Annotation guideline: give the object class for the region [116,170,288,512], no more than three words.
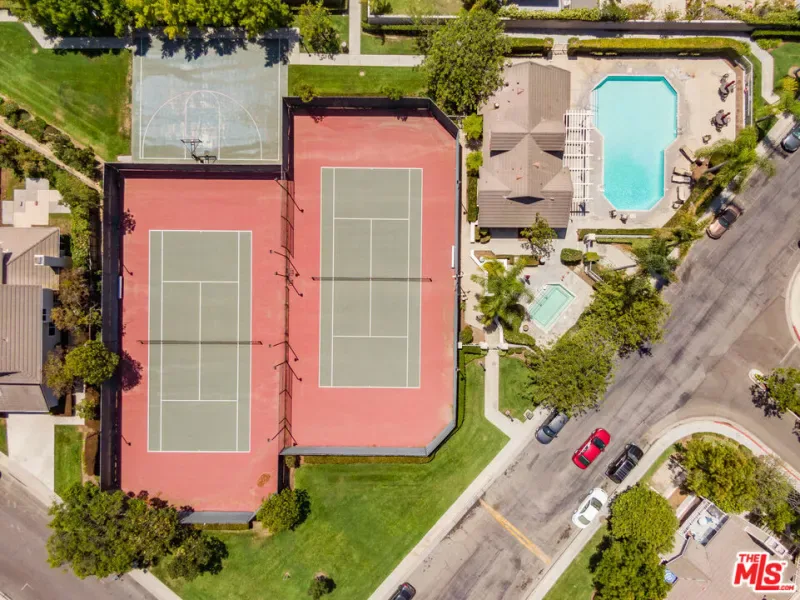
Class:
tennis court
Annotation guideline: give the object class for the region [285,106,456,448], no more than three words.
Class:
tennis court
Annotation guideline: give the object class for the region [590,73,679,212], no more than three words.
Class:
swimming pool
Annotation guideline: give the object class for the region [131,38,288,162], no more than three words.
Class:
basketball court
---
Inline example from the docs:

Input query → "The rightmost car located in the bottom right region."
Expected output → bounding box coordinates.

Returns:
[605,442,645,485]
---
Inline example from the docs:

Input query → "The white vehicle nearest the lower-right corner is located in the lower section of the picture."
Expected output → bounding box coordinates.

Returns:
[571,488,607,530]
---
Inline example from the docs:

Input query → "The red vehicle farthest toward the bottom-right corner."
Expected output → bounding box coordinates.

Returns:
[572,427,610,470]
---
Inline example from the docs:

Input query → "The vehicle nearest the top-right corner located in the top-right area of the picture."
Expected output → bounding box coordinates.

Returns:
[778,115,800,152]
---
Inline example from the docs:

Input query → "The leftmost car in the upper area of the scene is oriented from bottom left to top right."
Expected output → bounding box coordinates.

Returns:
[705,200,744,240]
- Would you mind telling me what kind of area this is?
sports ground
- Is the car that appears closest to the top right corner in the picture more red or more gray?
gray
